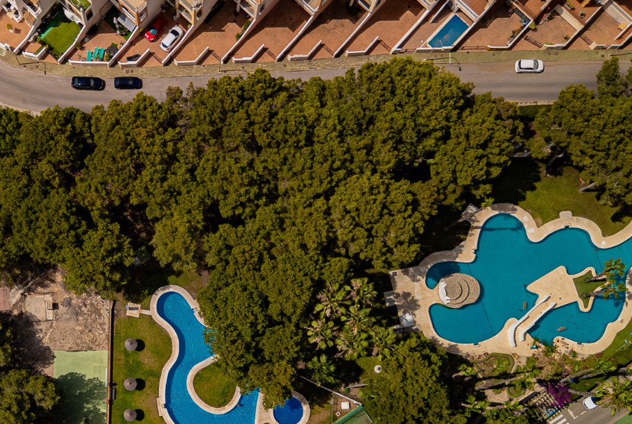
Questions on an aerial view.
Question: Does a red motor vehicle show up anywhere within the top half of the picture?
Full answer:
Yes, looking within the top half of the picture, one can make out a red motor vehicle.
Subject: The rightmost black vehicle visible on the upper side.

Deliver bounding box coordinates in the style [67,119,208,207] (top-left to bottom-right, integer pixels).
[114,77,142,91]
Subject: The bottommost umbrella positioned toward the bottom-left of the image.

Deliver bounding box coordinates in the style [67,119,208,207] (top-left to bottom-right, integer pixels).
[124,408,137,422]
